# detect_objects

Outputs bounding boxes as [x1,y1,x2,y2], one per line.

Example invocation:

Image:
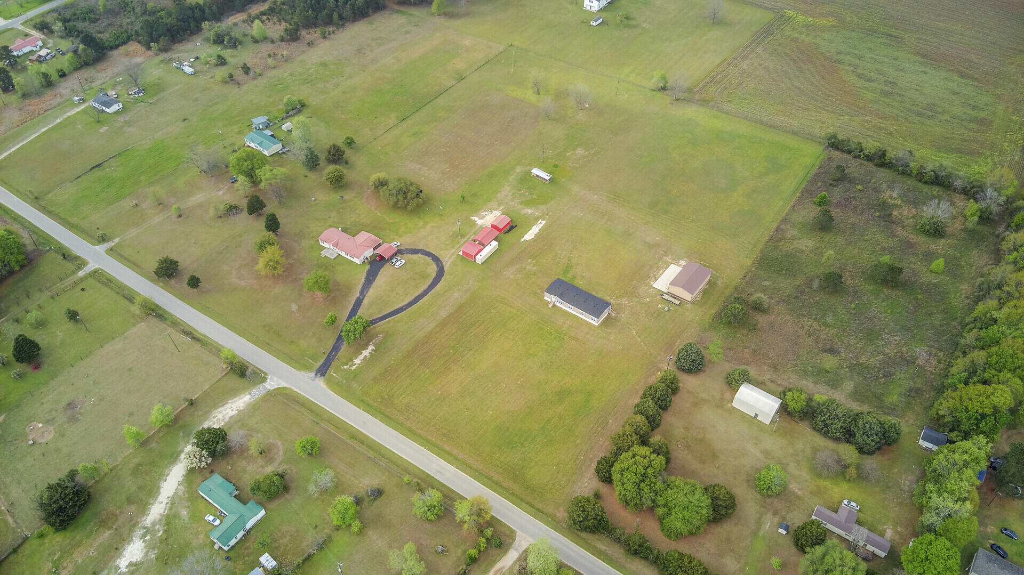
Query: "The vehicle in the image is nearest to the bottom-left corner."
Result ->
[203,515,221,527]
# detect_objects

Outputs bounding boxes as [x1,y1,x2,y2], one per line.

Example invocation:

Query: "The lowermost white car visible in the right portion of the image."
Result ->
[843,498,862,512]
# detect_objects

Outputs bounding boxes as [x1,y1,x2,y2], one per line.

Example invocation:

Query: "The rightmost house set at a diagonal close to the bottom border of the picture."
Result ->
[813,504,892,558]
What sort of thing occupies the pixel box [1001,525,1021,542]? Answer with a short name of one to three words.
car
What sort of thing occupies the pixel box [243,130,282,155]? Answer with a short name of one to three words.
house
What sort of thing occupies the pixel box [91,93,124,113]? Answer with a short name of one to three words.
house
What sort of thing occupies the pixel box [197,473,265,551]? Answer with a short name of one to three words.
building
